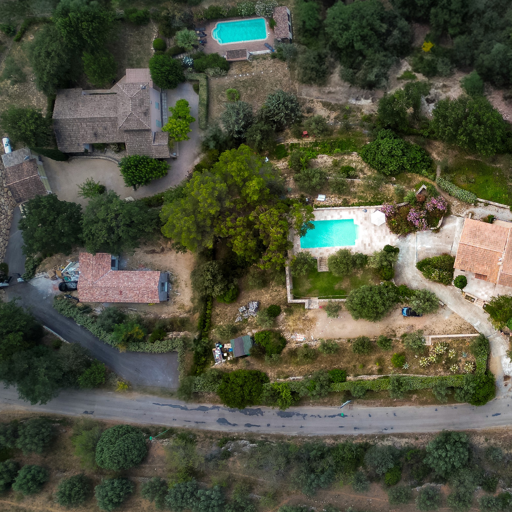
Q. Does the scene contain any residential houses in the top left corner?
Yes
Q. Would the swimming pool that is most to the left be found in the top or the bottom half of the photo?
top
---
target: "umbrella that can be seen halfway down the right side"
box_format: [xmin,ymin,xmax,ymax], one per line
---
[372,210,386,226]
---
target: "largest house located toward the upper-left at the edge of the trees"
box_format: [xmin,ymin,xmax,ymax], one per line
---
[52,68,172,160]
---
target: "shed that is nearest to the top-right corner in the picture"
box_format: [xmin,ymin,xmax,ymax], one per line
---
[273,5,296,43]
